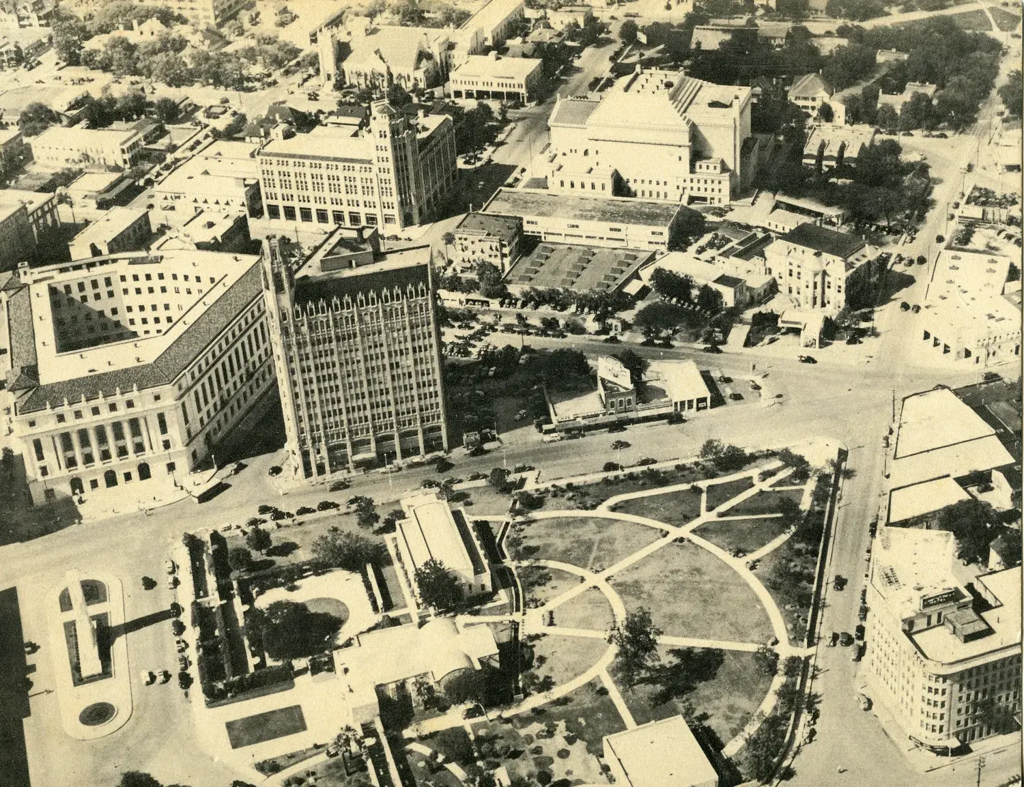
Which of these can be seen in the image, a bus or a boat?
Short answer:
bus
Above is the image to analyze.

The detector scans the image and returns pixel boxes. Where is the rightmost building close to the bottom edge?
[869,528,1024,762]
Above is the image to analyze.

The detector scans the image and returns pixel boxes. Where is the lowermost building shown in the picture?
[603,715,725,787]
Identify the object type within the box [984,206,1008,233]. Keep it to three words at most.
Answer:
greenhouse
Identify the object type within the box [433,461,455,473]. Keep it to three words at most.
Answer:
vehicle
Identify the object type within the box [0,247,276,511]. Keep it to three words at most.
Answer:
building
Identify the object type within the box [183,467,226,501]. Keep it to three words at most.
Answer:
bus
